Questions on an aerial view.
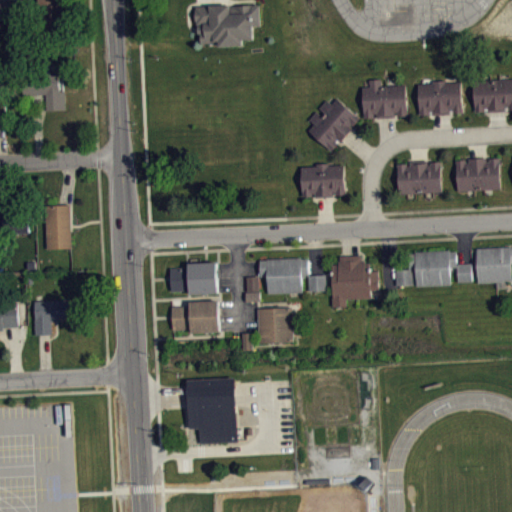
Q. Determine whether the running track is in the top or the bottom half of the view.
bottom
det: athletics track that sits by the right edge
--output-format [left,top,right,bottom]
[386,390,512,512]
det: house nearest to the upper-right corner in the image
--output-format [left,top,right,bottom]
[470,80,512,114]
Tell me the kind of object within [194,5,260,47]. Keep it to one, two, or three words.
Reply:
house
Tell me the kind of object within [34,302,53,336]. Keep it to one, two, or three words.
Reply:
house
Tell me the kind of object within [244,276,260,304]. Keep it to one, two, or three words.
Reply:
building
